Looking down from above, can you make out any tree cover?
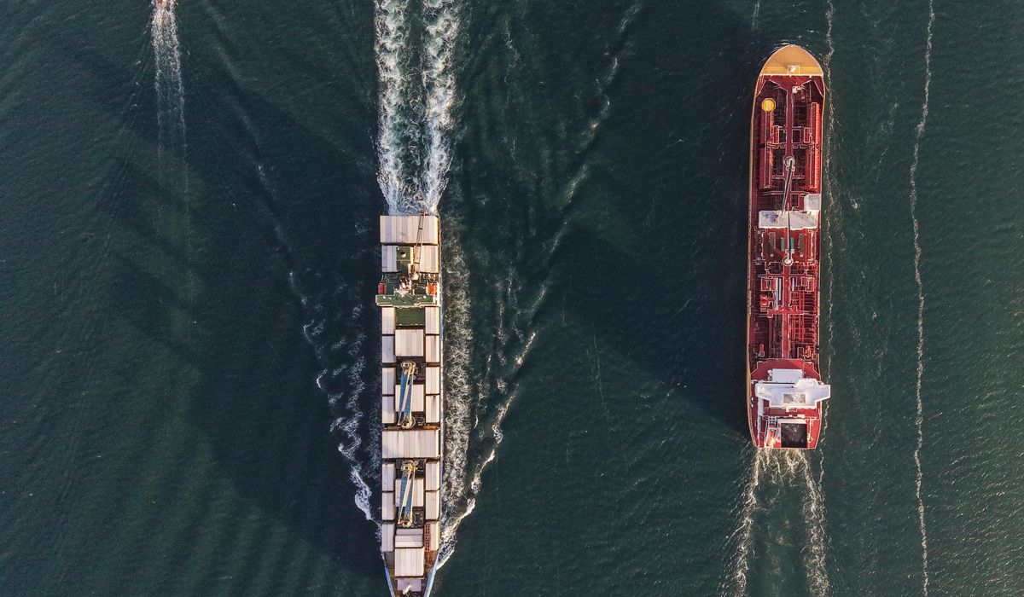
No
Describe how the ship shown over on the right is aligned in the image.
vertically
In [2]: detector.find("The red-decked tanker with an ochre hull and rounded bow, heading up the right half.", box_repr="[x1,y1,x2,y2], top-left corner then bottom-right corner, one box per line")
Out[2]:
[744,44,831,449]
